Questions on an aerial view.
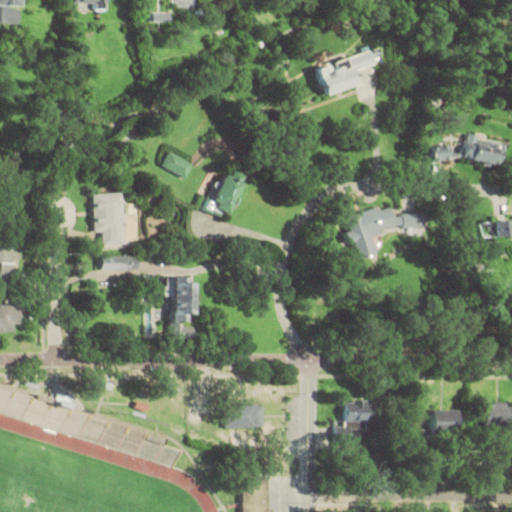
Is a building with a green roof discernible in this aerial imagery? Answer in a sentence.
Yes, the photo shows a building with a green roof.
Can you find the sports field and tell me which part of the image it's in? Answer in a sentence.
The sports field appears toward the bottom left of the photo.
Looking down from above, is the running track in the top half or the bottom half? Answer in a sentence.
It is in the bottom half that the running track appears.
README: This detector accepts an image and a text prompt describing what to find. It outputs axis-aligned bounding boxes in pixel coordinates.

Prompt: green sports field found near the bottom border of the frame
[0,429,202,512]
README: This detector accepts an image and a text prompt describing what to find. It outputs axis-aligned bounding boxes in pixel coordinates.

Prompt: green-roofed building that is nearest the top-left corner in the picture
[162,151,193,179]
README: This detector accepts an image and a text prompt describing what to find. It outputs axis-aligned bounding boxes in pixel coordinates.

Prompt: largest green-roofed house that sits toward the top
[218,171,246,213]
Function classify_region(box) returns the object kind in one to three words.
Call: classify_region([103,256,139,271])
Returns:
building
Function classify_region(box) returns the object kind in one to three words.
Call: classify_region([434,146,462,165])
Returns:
house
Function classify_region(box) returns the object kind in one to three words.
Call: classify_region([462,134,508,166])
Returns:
house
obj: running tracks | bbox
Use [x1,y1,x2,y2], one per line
[0,412,221,512]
